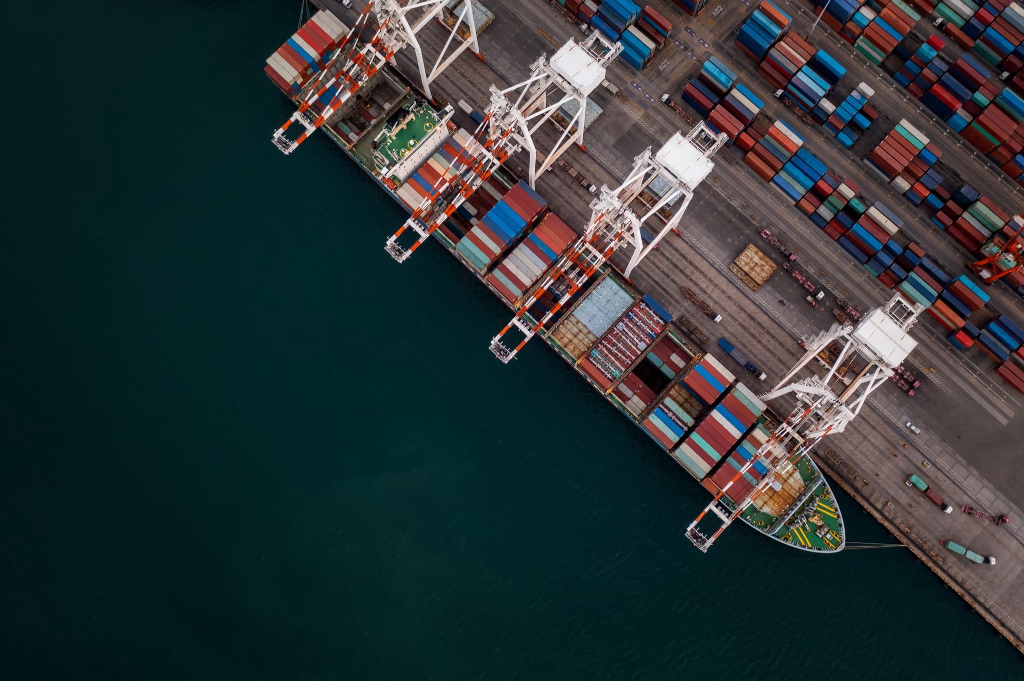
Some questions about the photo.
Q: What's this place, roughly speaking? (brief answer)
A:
port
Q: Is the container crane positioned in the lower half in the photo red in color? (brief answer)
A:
No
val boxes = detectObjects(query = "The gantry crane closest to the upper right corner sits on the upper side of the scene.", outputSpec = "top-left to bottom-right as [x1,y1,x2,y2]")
[973,242,1024,289]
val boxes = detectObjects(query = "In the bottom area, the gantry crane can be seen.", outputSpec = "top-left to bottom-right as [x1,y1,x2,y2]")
[683,288,935,556]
